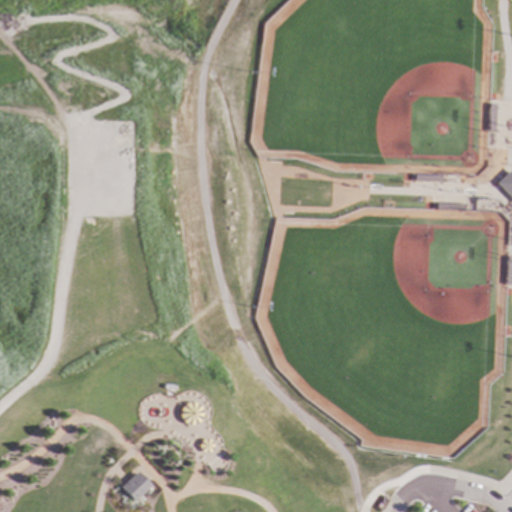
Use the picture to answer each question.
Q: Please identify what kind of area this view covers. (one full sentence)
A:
It's a sports ground.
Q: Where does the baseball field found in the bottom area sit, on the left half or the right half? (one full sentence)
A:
The baseball field found in the bottom area appears in the right half of the scene.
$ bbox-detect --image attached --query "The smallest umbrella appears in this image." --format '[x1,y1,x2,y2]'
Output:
[202,438,216,454]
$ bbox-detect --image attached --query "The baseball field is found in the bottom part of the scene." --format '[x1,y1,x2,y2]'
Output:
[259,207,508,458]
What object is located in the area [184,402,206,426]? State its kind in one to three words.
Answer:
umbrella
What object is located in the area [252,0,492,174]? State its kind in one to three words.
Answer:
baseball field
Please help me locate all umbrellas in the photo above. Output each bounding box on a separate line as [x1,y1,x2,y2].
[184,402,206,426]
[202,438,216,454]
